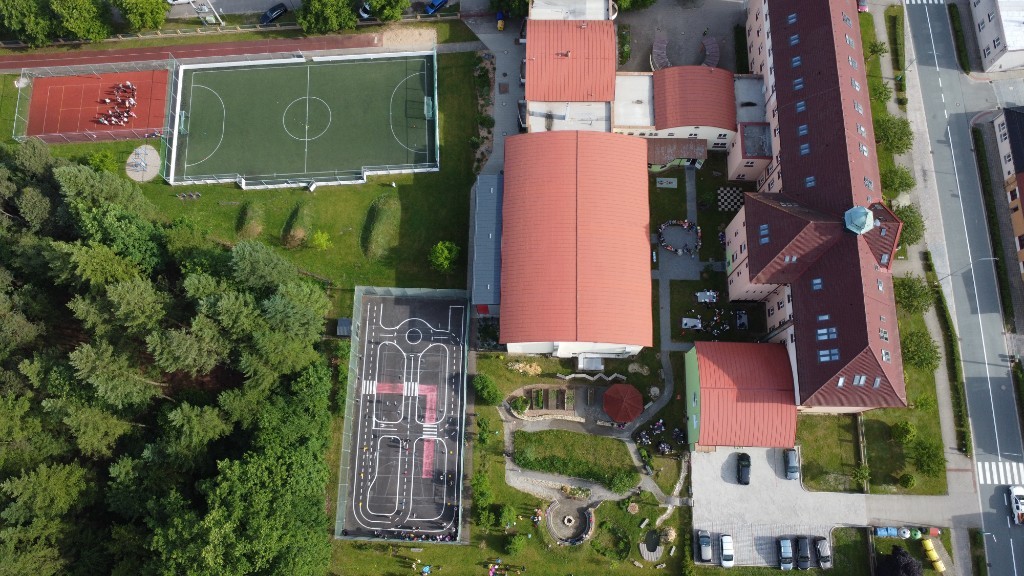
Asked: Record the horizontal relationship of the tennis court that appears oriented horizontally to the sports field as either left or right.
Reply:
left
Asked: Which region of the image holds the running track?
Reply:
top left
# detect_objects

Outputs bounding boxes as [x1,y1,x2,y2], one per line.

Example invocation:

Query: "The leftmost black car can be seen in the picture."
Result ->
[260,5,287,25]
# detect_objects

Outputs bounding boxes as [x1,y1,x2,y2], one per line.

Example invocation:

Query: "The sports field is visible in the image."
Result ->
[163,44,439,190]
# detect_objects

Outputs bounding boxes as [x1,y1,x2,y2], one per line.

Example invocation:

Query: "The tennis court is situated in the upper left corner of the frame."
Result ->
[10,54,180,145]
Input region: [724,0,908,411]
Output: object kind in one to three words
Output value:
building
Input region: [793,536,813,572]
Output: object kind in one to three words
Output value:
car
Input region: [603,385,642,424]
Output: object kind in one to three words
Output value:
gazebo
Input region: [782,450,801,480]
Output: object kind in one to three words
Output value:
car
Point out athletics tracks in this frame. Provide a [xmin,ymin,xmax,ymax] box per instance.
[0,31,382,69]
